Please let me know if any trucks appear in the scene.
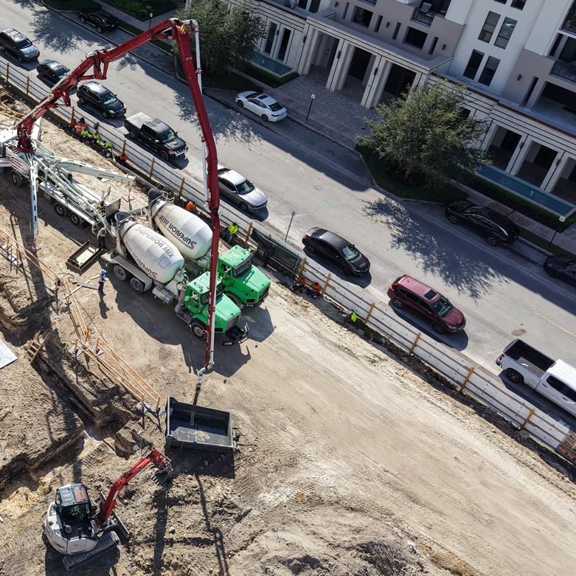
Yes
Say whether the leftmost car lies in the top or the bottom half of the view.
top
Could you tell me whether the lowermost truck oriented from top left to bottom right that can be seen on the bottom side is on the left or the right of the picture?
right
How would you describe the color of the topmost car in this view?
black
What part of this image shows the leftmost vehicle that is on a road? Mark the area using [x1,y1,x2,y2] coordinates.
[0,32,41,66]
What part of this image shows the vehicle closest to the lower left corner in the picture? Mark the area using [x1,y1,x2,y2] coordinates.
[41,430,158,571]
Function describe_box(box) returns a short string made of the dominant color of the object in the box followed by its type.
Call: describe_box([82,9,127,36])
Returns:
black car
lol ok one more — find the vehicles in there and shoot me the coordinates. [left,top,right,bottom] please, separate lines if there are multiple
[234,92,294,127]
[445,203,529,253]
[76,83,128,123]
[499,344,576,424]
[387,280,477,347]
[300,229,378,287]
[98,205,257,362]
[0,32,41,66]
[210,173,278,221]
[82,9,127,36]
[126,118,194,166]
[0,15,225,427]
[32,59,69,88]
[41,430,158,571]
